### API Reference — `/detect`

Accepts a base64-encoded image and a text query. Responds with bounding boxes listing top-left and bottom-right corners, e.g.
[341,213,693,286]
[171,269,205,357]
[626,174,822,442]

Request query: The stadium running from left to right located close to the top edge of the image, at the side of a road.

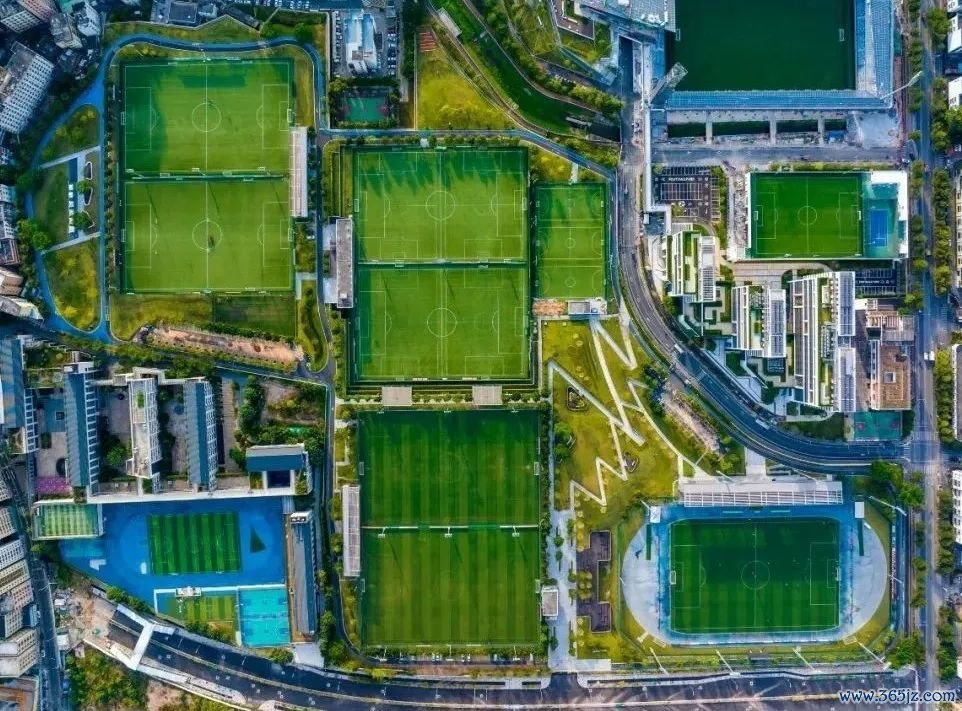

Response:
[576,0,895,146]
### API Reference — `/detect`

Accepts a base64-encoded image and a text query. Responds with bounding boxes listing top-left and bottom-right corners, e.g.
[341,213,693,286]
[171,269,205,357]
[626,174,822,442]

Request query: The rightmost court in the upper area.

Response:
[862,172,904,255]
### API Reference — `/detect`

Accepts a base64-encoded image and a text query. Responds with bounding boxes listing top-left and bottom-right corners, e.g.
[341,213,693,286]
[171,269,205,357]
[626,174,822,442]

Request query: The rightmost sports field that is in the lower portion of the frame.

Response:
[622,495,888,646]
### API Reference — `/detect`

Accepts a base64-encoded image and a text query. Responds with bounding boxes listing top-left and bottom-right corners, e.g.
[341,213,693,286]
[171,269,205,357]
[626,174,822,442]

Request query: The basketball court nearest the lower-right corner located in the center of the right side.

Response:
[854,412,903,441]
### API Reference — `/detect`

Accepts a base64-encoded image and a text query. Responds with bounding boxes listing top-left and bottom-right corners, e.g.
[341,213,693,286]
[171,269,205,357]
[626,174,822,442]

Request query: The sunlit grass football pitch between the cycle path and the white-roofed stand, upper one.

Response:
[118,54,297,178]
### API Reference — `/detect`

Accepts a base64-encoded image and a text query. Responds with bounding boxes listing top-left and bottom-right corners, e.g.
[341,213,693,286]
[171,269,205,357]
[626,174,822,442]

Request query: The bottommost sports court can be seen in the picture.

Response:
[239,587,290,646]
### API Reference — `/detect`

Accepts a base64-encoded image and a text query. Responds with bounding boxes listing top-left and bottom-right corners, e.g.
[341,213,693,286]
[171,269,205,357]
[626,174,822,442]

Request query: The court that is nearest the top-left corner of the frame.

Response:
[345,97,387,121]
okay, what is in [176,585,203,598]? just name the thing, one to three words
building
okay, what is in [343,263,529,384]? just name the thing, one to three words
soccer field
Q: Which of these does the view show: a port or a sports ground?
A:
sports ground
